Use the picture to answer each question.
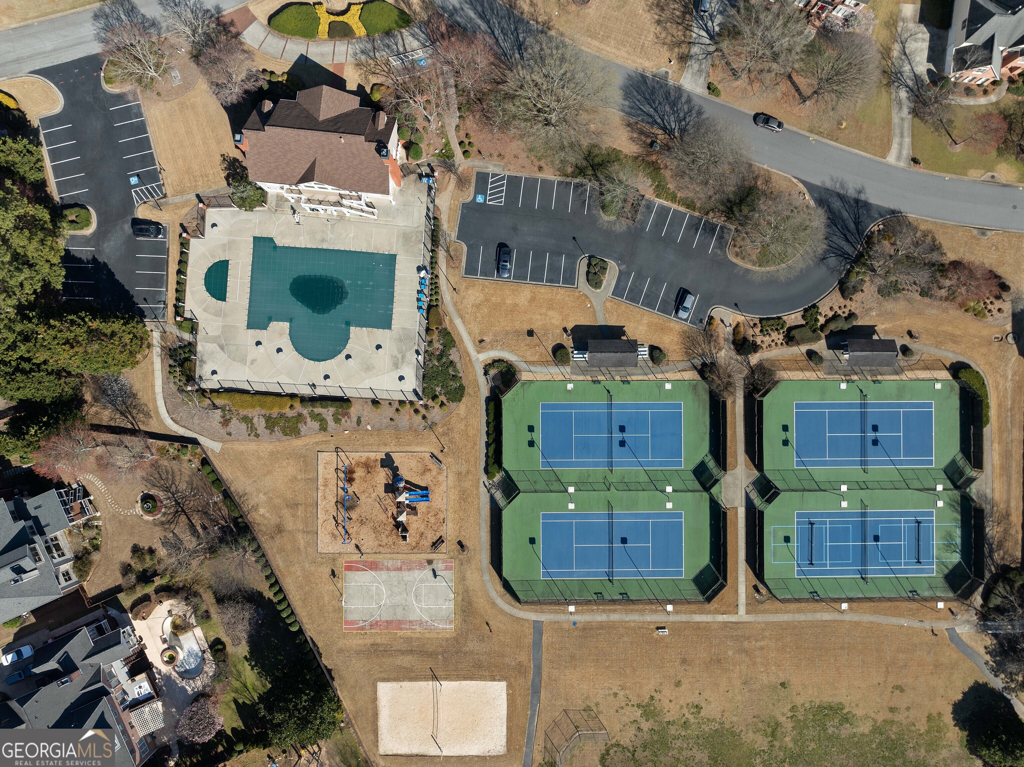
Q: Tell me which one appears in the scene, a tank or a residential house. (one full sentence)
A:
It is a residential house that can be seen here.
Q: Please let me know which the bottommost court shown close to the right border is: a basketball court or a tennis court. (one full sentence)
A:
I'd say the bottommost court shown close to the right border is a tennis court.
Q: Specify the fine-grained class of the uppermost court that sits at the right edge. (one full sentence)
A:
It looks like the uppermost court that sits at the right edge is a tennis court.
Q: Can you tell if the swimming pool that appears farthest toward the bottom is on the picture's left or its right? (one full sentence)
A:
It is on the left.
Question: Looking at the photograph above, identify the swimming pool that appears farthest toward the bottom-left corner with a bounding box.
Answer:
[159,613,205,679]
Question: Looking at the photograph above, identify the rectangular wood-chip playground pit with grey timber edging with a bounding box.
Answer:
[317,451,447,554]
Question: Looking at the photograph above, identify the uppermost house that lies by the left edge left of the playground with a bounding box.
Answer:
[0,482,105,624]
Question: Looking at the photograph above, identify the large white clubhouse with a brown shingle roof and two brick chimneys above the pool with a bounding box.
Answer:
[234,85,404,219]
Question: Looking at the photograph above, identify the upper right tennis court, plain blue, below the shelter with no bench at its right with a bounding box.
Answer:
[770,380,973,490]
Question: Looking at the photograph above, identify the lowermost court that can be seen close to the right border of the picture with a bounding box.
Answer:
[757,471,973,600]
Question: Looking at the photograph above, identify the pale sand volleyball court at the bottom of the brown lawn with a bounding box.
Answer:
[378,682,506,756]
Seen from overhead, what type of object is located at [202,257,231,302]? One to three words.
swimming pool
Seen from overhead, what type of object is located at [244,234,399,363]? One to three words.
swimming pool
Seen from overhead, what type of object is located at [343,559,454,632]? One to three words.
basketball court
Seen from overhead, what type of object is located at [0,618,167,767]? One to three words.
house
